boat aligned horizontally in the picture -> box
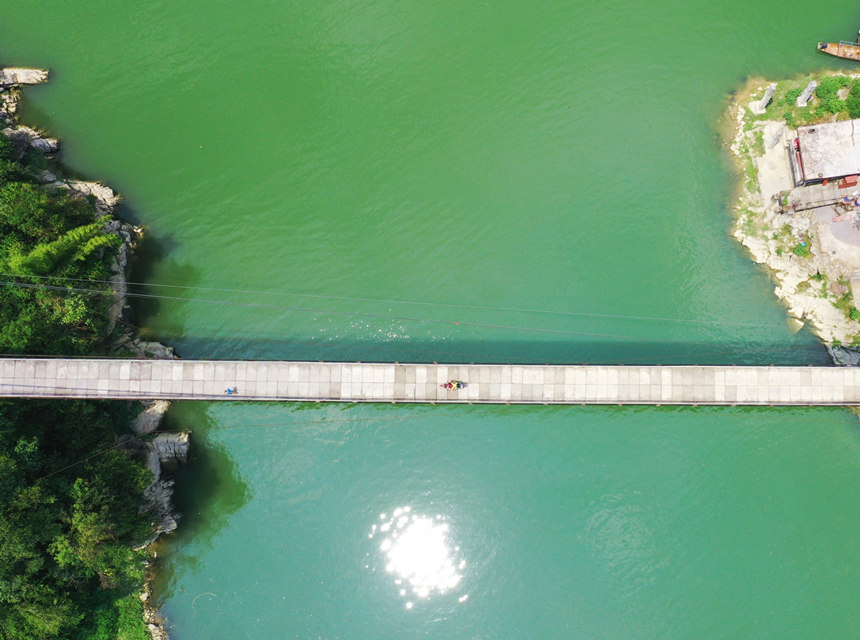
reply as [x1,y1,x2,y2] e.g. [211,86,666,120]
[815,37,860,60]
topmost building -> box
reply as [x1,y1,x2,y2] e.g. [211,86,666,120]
[786,119,860,189]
